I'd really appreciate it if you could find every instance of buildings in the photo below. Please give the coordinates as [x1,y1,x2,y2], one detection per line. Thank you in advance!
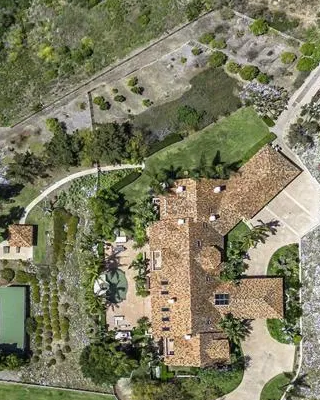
[149,142,303,367]
[9,225,32,246]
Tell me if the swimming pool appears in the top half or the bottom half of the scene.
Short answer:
bottom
